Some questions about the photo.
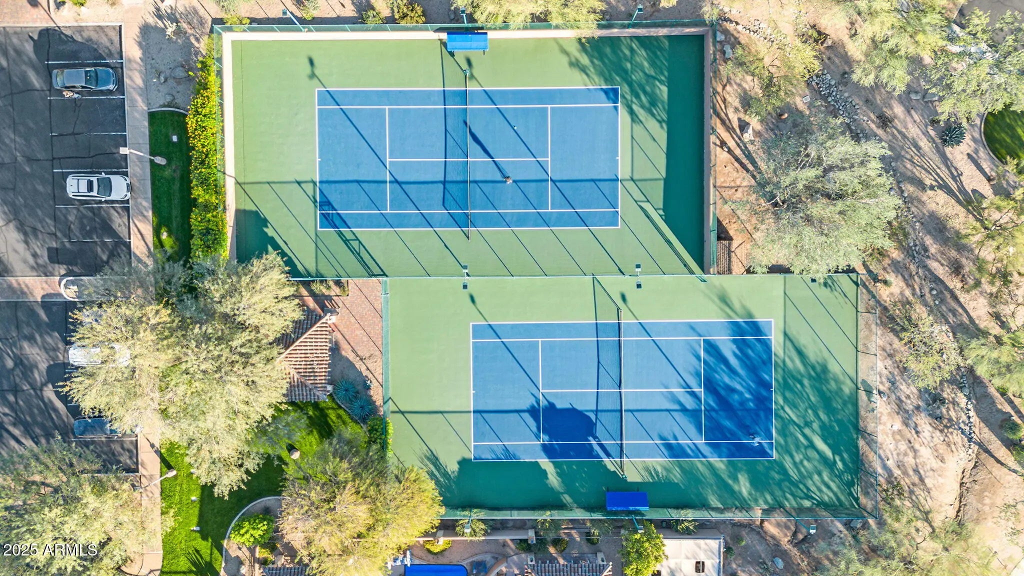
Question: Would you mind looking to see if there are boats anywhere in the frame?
No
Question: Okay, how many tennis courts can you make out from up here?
2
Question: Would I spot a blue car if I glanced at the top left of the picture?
Yes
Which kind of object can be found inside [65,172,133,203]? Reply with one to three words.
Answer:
car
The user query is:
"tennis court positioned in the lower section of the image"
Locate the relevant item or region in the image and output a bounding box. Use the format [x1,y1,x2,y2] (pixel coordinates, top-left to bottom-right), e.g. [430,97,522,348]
[389,274,860,510]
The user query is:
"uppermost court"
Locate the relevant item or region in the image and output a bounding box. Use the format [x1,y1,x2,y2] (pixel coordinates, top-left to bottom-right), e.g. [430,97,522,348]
[233,37,705,277]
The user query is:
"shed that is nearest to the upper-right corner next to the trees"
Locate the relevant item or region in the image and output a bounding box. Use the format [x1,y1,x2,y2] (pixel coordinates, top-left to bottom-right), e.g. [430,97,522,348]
[715,239,746,273]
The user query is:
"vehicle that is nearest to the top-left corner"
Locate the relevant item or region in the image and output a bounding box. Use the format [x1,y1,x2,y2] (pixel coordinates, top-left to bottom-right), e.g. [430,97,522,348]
[53,63,121,95]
